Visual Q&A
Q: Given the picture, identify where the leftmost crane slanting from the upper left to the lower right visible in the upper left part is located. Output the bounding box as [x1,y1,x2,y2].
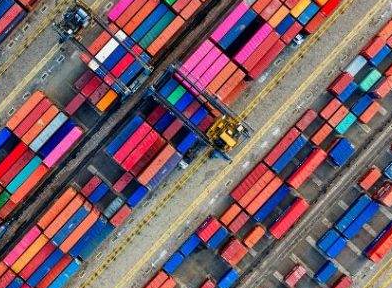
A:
[54,0,154,93]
